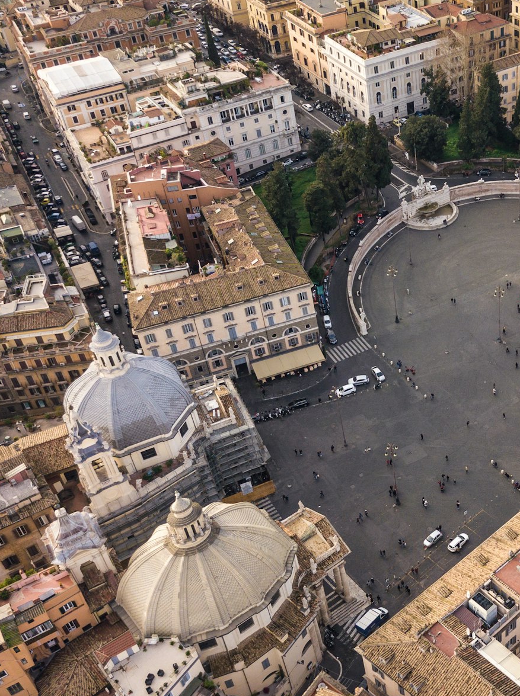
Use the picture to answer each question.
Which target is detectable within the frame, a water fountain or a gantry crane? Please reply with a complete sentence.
Looking from above, you can make out a water fountain.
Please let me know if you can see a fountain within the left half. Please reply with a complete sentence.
No, I see no fountain within the left half.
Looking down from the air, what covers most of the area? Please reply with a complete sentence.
Most of the picture is covered by buildings.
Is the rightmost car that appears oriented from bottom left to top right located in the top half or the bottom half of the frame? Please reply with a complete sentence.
You can find the rightmost car that appears oriented from bottom left to top right in the bottom half.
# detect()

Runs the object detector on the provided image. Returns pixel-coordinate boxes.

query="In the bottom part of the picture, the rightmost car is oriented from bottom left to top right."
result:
[446,533,469,554]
